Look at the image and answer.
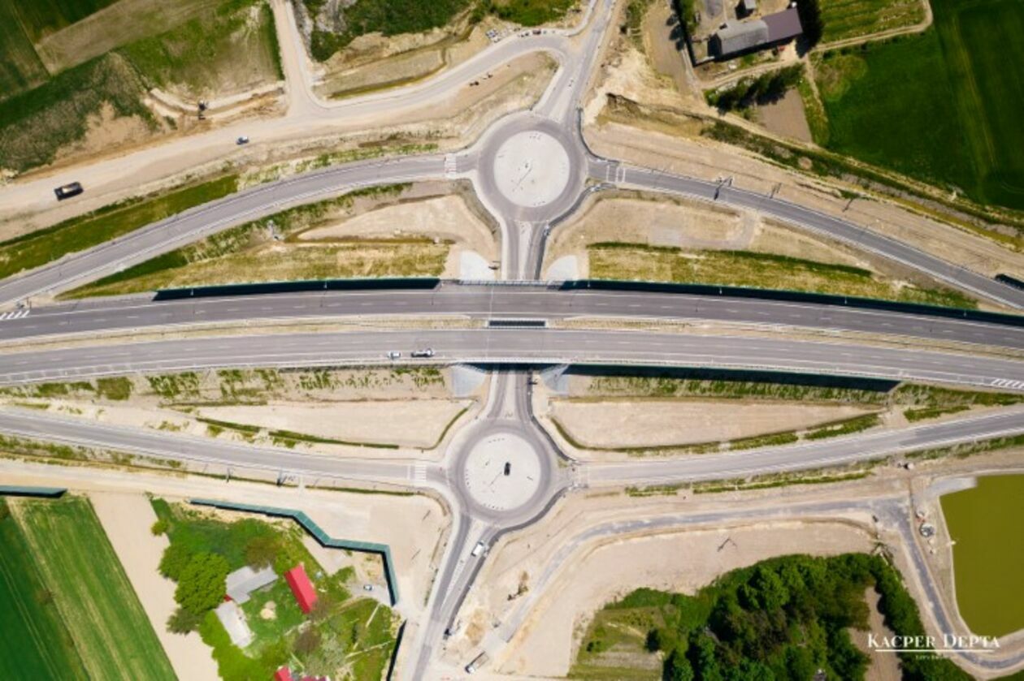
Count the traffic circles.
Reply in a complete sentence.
My tally gives 2 traffic circles in this view.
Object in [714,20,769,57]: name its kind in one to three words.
barn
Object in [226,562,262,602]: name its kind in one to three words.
house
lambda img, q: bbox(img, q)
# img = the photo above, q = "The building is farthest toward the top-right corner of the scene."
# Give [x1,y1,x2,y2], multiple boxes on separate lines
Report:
[762,6,799,47]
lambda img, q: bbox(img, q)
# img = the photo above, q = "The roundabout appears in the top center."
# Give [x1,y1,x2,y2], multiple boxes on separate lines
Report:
[477,77,588,280]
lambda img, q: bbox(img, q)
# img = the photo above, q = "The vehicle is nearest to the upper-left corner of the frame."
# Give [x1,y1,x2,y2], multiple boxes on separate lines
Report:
[51,182,79,197]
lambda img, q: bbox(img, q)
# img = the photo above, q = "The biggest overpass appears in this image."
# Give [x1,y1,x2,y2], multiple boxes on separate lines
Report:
[457,278,580,321]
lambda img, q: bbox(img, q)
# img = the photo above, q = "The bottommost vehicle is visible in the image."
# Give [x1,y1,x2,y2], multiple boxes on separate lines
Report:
[464,653,487,675]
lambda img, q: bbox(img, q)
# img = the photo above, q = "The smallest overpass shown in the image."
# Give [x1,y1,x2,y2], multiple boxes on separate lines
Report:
[453,325,571,364]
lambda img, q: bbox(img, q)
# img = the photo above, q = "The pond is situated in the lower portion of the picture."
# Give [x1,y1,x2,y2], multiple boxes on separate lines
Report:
[943,476,1024,634]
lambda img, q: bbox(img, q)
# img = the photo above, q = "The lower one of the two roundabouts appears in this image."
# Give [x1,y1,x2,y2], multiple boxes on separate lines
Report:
[440,369,558,616]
